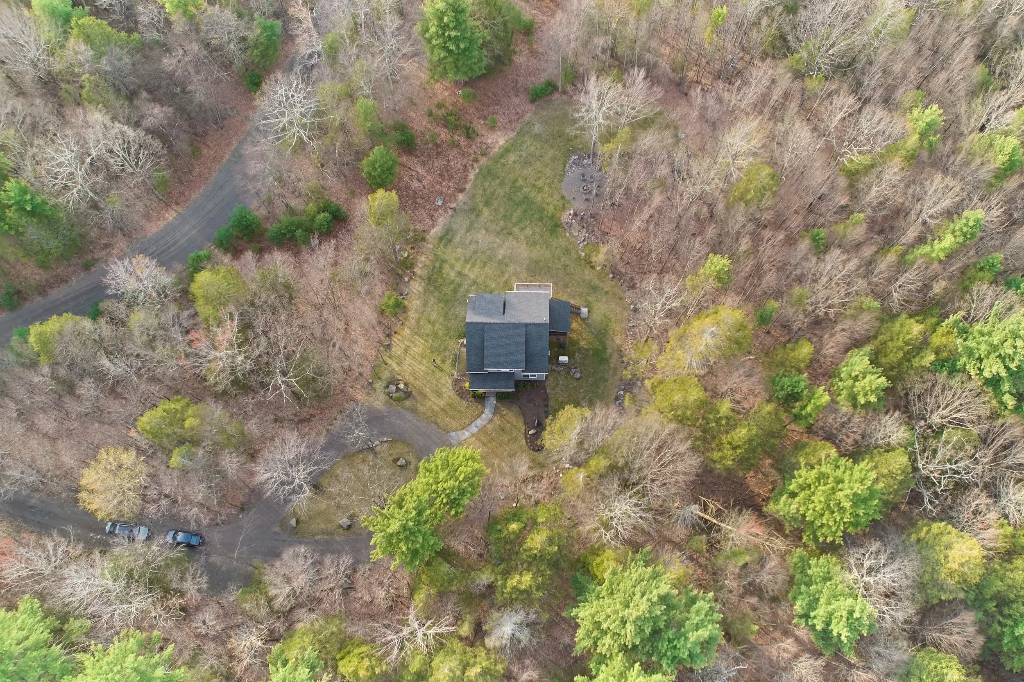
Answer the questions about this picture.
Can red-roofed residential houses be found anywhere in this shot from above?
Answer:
No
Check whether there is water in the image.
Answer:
No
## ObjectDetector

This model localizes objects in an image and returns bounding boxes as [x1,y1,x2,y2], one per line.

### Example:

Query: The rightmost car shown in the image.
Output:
[165,527,203,548]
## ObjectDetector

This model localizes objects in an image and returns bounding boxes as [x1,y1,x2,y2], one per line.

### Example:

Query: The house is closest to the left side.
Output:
[466,289,550,397]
